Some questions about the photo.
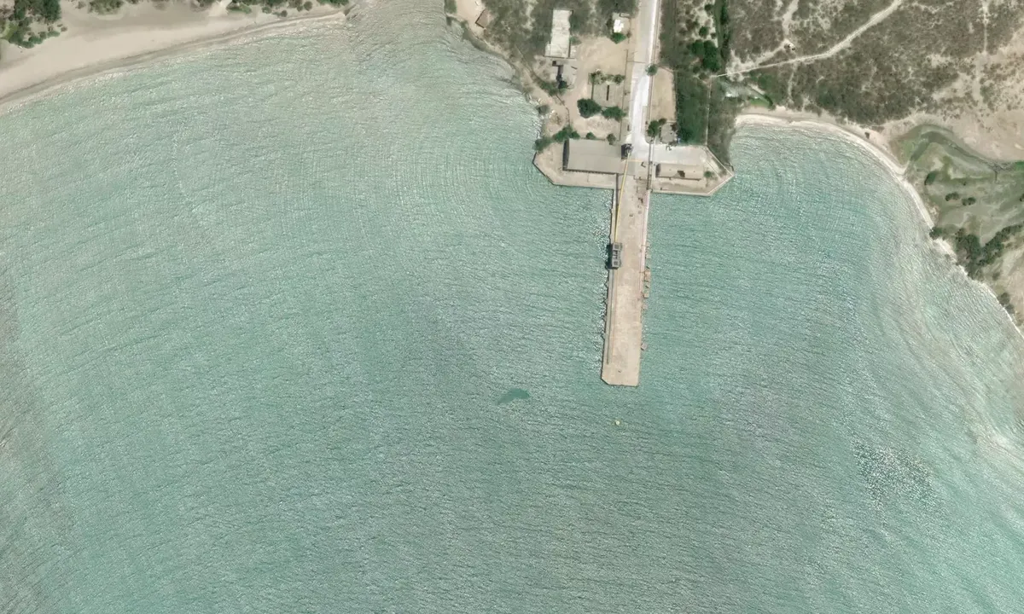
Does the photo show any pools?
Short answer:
No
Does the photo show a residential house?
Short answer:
Yes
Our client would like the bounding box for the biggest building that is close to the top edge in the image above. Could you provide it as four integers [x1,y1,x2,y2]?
[543,10,576,58]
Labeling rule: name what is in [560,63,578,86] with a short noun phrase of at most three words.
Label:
house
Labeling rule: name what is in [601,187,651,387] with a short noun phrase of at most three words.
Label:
pier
